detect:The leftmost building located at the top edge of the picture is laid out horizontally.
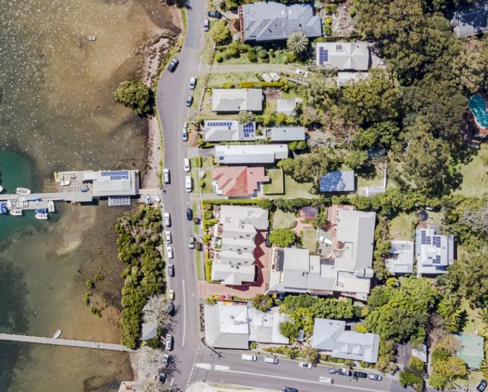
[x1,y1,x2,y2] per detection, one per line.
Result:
[237,4,323,41]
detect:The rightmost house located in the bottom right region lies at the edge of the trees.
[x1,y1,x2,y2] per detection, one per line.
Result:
[451,333,485,368]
